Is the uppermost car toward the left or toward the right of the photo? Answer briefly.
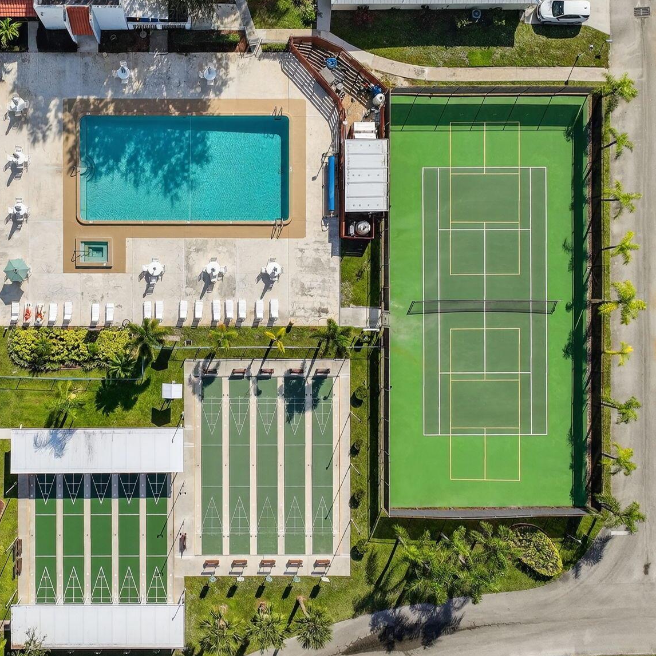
right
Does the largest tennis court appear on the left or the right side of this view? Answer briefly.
right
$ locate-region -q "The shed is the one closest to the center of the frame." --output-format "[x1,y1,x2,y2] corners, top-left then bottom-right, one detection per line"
[343,139,388,212]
